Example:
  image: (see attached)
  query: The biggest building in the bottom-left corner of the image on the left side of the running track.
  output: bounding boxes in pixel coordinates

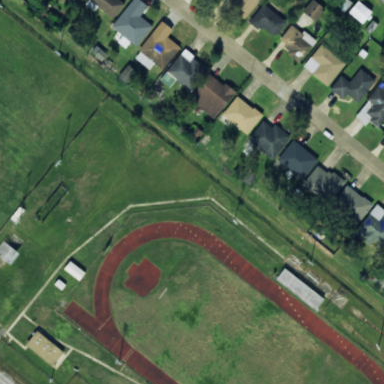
[28,332,64,367]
